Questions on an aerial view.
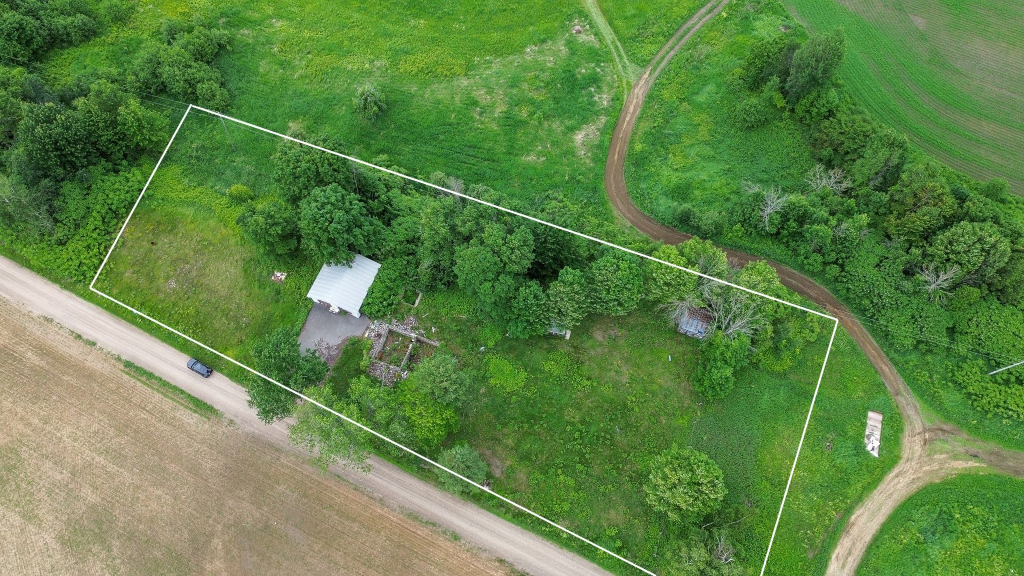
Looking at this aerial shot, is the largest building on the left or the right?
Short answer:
left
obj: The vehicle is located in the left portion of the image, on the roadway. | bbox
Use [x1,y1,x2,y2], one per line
[186,360,216,378]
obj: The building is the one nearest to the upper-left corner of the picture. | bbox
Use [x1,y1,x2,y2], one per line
[307,250,378,313]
